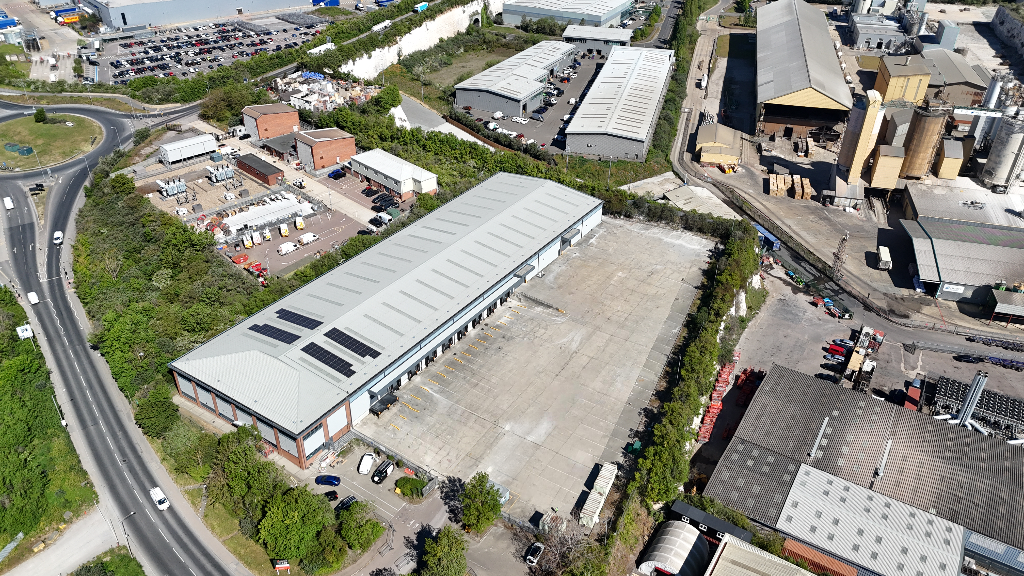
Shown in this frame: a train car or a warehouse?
warehouse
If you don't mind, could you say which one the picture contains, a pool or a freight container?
freight container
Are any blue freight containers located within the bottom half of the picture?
No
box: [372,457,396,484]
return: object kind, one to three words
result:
vehicle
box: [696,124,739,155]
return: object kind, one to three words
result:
building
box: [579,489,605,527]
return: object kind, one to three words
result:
shipping container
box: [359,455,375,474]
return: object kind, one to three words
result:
car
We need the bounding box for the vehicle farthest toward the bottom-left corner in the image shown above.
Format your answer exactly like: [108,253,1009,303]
[146,484,168,511]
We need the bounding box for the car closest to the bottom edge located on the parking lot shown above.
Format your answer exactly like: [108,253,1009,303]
[526,543,543,565]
